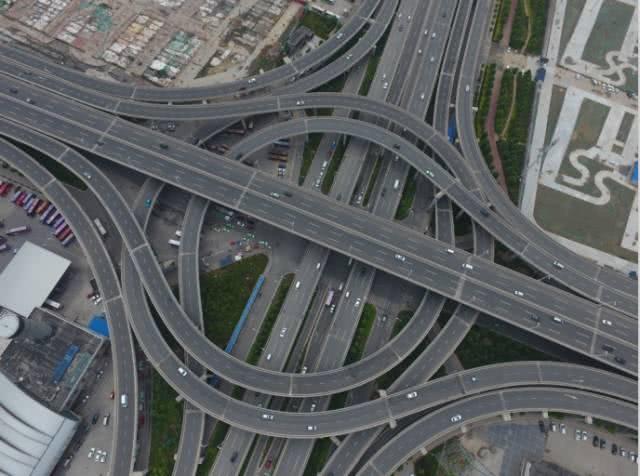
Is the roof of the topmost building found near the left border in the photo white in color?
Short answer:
Yes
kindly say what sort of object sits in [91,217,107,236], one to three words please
vehicle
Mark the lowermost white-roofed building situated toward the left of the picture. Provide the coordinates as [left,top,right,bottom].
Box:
[0,374,89,476]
